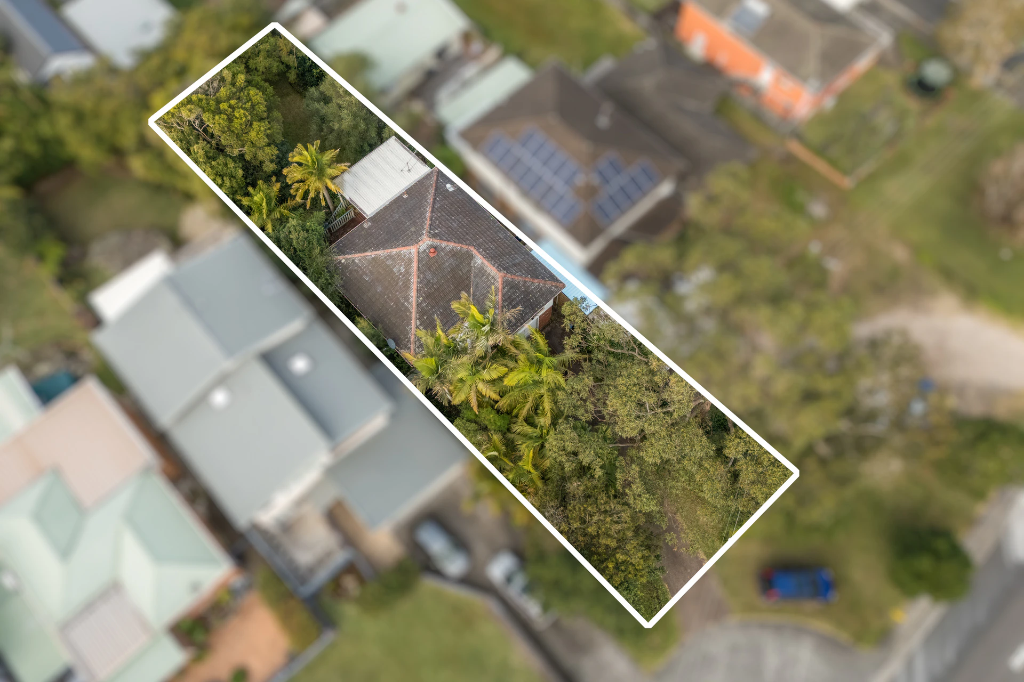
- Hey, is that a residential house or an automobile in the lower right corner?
automobile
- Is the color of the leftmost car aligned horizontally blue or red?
blue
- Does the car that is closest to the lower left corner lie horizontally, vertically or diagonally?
diagonally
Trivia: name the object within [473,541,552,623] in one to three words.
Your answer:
vehicle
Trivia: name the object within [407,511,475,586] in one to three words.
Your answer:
car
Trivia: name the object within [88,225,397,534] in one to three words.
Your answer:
house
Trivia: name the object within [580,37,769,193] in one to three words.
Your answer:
house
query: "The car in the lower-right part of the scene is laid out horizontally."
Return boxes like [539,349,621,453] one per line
[760,566,835,602]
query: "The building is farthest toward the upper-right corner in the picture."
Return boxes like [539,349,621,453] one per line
[670,0,888,140]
